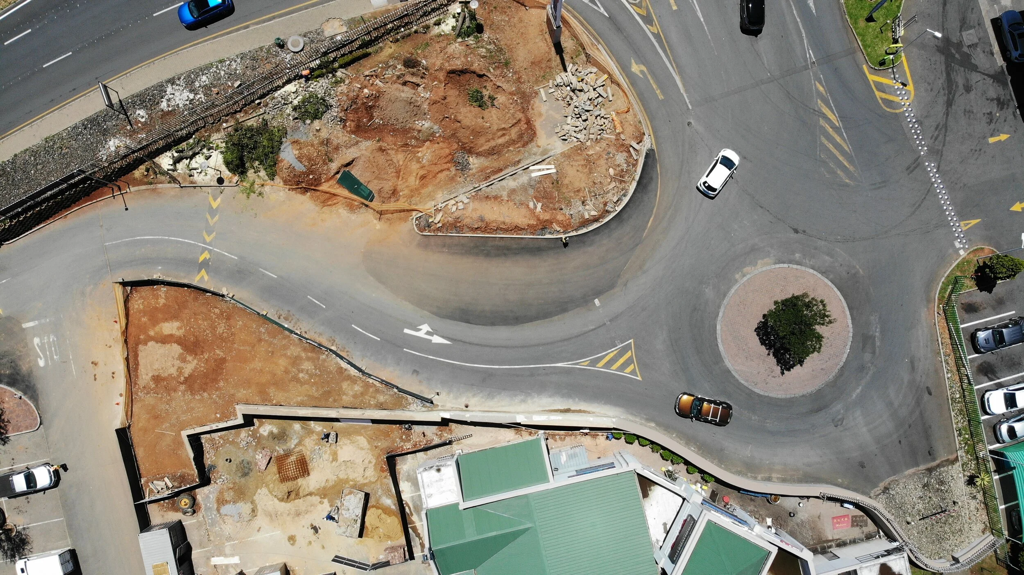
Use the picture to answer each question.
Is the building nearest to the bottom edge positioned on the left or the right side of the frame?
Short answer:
right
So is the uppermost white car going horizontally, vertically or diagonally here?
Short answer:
diagonally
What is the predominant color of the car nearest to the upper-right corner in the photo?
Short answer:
black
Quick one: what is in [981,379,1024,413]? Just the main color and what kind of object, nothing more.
white car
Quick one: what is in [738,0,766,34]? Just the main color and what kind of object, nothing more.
black car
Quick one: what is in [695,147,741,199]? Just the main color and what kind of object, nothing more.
white car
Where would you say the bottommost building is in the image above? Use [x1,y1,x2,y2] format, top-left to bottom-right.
[813,534,910,575]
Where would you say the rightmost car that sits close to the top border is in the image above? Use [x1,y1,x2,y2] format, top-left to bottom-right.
[997,8,1024,67]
